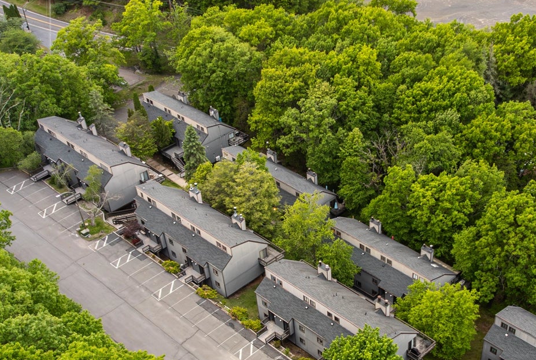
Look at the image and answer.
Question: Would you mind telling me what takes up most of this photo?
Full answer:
What you mostly see from above here is trees.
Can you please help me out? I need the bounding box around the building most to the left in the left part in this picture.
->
[32,111,165,211]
